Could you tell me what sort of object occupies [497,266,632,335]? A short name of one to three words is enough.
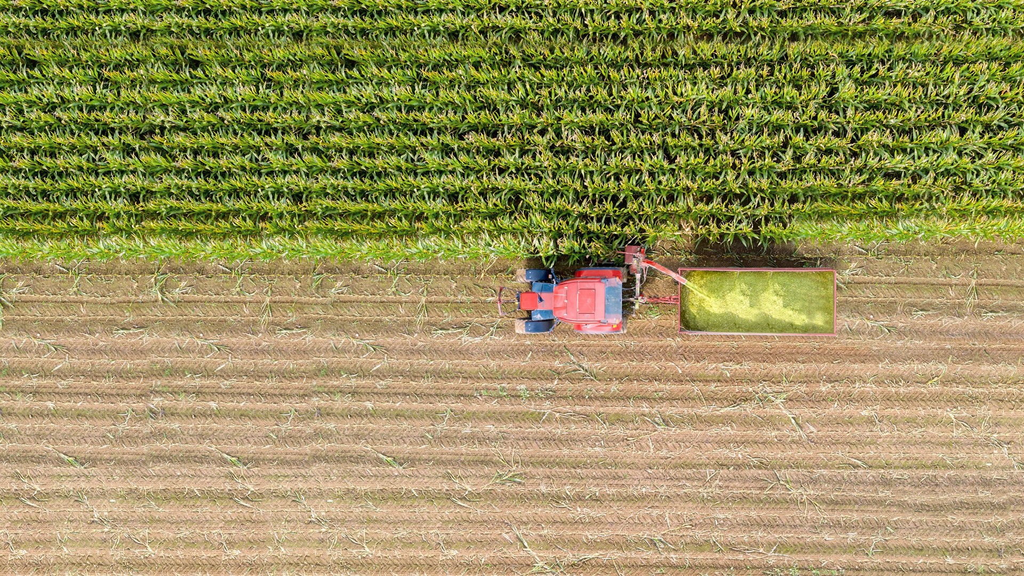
work vehicle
